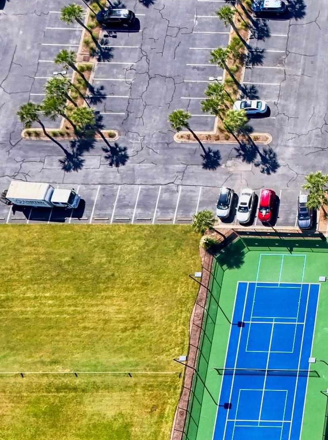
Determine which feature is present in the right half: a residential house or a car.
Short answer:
car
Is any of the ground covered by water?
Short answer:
No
